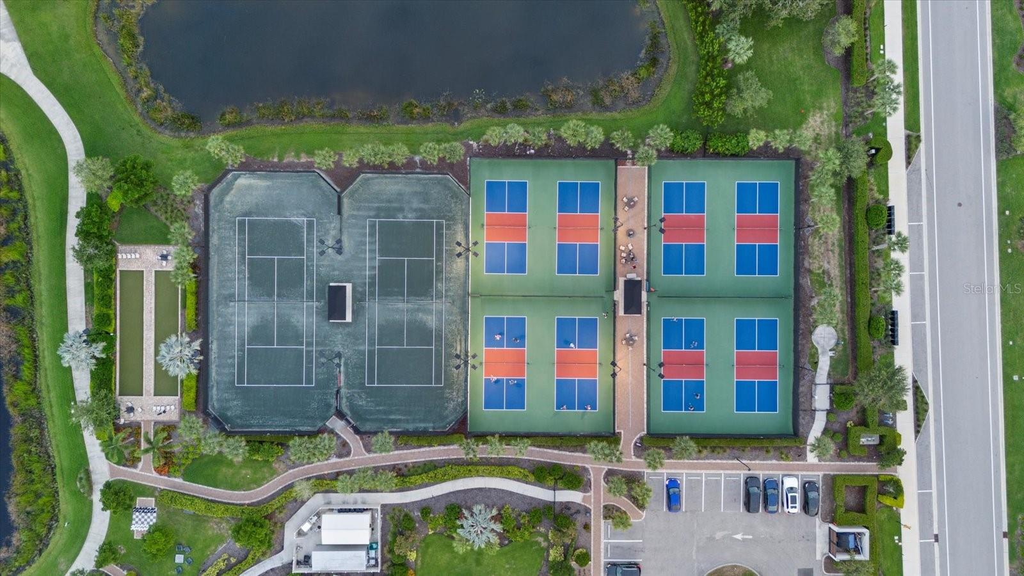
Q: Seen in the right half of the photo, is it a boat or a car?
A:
car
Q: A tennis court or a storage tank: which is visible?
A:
tennis court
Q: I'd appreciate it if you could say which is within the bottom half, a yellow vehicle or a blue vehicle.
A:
blue vehicle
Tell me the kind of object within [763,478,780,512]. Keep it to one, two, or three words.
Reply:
car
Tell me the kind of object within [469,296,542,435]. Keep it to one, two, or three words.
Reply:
sports court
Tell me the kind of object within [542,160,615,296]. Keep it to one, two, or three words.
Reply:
sports court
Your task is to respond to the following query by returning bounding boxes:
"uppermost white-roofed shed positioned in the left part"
[321,510,373,544]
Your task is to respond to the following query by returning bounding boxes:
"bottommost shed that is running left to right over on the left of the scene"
[312,545,368,571]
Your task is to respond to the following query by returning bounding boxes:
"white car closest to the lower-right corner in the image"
[782,476,801,513]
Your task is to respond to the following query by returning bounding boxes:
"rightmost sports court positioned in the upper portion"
[721,160,794,296]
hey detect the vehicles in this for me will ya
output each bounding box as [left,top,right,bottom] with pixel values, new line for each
[744,476,762,512]
[763,478,780,512]
[606,562,641,576]
[782,476,801,513]
[665,478,681,511]
[802,481,821,515]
